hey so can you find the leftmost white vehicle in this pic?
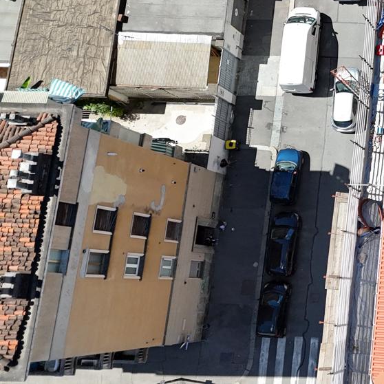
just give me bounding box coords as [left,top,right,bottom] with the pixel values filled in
[280,8,324,93]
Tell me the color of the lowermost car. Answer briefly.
black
